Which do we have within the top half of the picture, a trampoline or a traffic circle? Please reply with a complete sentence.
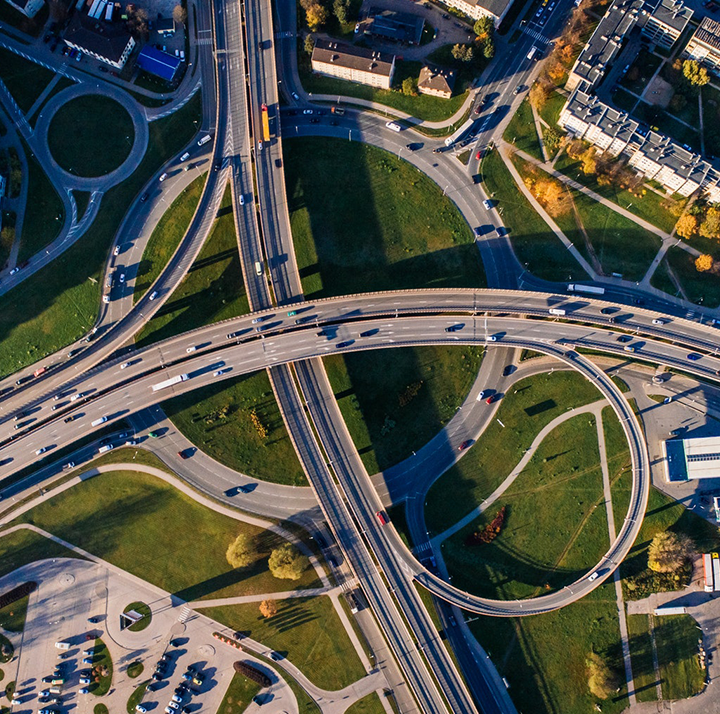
The one visible within the top half of the picture is a traffic circle.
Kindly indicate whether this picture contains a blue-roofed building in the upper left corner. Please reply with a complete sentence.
Yes, the scene does show a blue-roofed building in the upper left corner.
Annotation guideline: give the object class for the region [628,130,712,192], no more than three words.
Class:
building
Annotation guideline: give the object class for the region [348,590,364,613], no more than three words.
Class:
vehicle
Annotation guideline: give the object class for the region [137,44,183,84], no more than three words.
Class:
building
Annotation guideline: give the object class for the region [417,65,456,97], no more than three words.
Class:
house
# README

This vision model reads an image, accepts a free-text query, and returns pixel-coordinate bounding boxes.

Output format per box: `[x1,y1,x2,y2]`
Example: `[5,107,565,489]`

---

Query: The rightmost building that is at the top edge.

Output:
[677,15,720,82]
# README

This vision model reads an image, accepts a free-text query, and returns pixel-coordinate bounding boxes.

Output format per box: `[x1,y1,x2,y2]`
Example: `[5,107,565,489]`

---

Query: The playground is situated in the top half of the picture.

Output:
[646,79,671,105]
